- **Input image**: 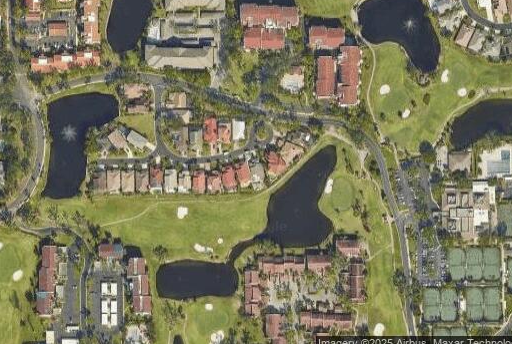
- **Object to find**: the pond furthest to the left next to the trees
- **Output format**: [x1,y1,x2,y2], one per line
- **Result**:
[43,94,118,197]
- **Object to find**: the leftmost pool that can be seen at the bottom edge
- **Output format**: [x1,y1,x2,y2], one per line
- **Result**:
[127,325,145,344]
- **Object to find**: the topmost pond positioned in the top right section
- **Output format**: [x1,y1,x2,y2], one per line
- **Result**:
[359,0,441,71]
